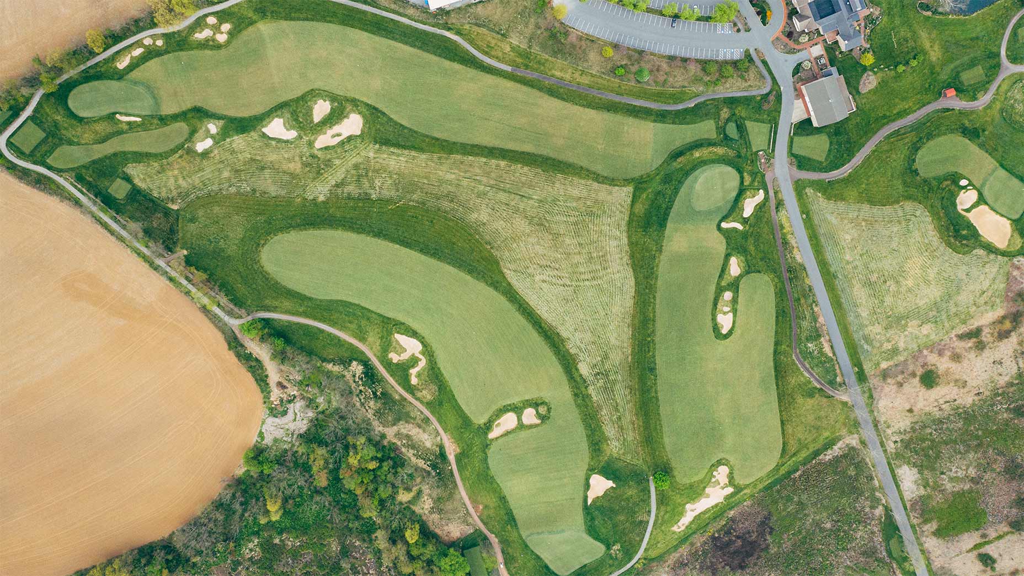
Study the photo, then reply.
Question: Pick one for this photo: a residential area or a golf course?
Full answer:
This image shows a golf course.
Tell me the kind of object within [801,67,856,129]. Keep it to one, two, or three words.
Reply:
building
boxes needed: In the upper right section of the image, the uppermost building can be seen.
[789,0,867,54]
